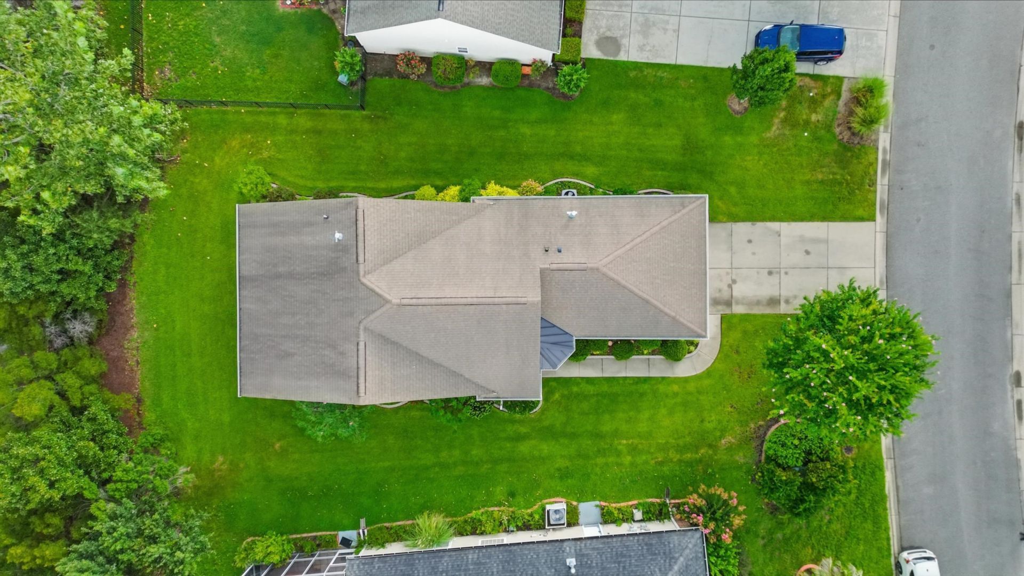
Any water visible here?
No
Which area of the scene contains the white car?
bottom right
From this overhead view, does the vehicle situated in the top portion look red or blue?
blue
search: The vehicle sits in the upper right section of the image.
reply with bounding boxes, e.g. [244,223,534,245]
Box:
[754,17,849,65]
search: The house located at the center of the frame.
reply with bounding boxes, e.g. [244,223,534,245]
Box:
[234,194,710,416]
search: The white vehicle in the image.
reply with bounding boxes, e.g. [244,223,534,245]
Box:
[899,549,941,576]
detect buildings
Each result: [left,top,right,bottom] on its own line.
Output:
[345,502,712,576]
[234,194,710,416]
[343,0,566,71]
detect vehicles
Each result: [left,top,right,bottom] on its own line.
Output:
[899,549,941,576]
[754,17,849,65]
